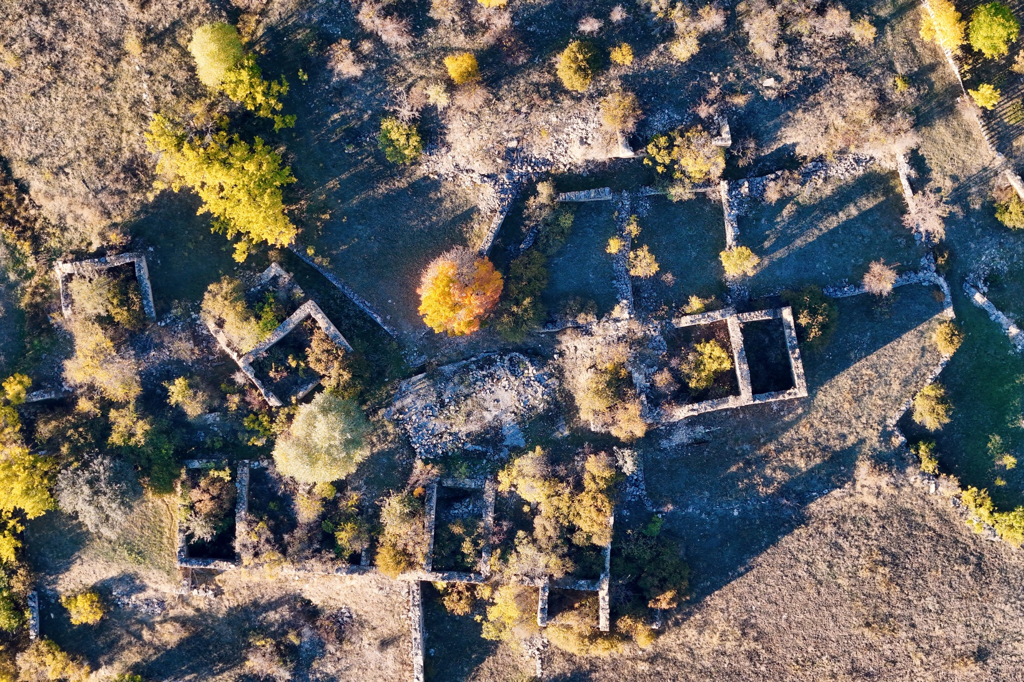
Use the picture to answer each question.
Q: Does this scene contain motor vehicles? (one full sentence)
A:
No, there isn't any motor vehicle down there.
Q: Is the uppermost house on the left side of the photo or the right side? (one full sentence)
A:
It is on the left.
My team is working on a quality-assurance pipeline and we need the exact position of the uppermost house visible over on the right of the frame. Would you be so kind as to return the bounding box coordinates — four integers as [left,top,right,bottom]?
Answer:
[592,305,806,431]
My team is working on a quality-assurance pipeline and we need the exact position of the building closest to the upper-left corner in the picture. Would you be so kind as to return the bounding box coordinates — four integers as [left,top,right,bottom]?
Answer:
[58,250,163,317]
